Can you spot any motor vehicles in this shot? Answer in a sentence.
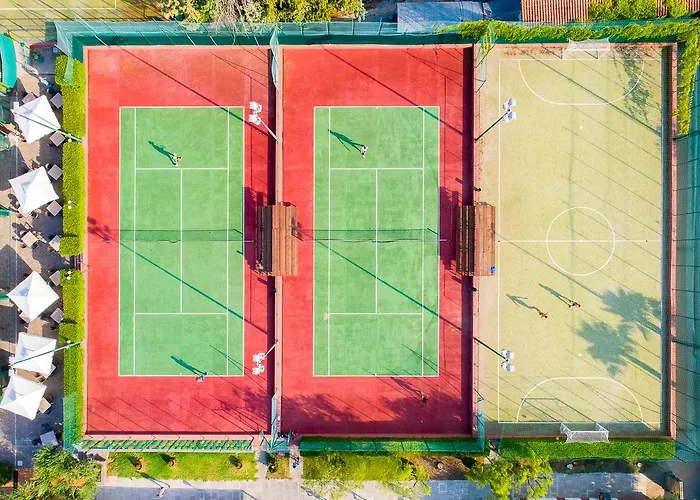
No, this view has no motor vehicle in it.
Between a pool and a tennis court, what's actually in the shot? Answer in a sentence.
There is a tennis court in the scene.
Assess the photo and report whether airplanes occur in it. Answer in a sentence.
No, I find no airplane anywhere in the image.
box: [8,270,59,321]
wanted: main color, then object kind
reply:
white umbrella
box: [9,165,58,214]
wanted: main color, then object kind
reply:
white umbrella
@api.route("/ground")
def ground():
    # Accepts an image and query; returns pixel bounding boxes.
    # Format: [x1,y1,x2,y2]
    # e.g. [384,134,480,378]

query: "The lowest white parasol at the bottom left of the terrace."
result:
[0,376,46,420]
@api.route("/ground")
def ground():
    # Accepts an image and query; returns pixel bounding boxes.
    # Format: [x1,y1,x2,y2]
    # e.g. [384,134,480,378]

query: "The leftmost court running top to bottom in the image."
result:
[90,49,277,432]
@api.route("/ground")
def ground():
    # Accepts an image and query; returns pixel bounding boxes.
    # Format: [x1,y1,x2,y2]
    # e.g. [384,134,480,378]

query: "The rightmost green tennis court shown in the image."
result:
[282,49,473,432]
